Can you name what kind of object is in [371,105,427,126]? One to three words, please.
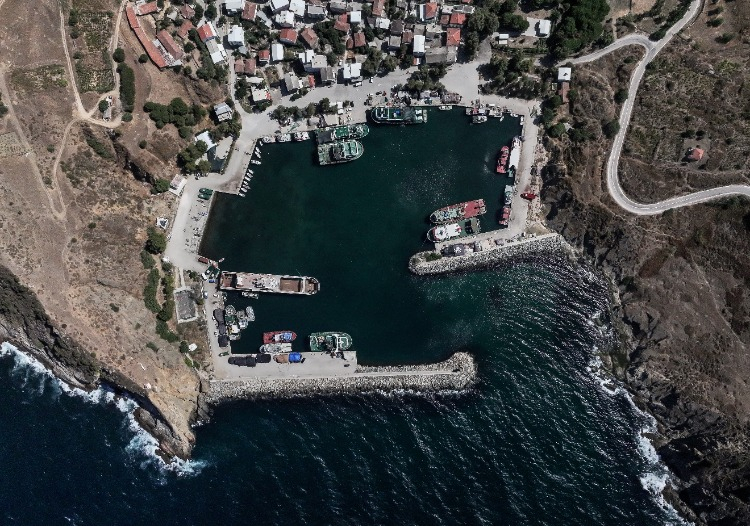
boat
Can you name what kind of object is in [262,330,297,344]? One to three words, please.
boat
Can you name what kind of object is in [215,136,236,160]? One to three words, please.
building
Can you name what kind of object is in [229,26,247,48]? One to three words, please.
house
